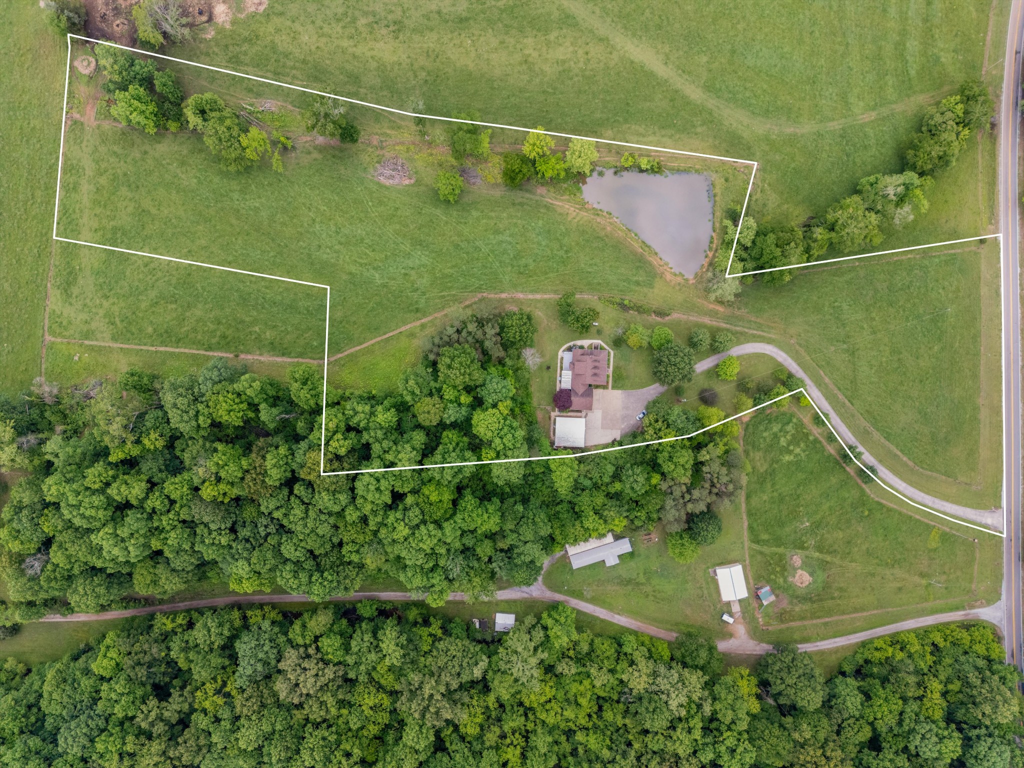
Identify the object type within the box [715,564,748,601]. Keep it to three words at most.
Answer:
barn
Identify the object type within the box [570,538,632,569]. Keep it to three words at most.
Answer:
building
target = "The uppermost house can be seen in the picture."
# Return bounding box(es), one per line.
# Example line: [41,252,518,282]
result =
[561,342,610,410]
